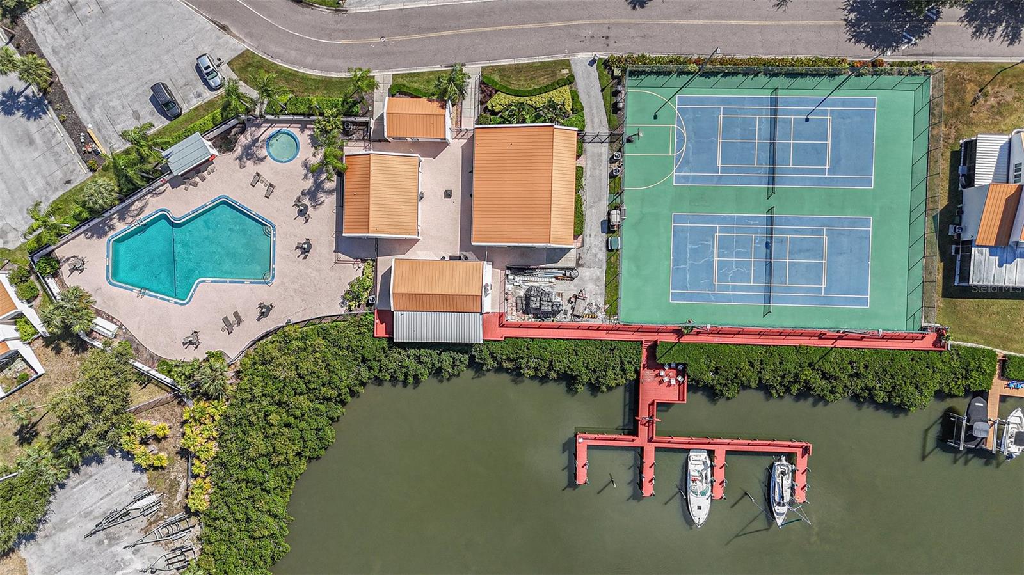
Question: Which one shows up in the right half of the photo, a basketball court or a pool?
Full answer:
The feature located in the right half of the photo is a basketball court.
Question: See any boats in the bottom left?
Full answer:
No, the scene shows no boat in the bottom left.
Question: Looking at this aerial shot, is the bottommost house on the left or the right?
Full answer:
It is on the left.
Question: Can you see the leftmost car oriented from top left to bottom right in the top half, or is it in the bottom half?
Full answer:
You can find the leftmost car oriented from top left to bottom right in the top half.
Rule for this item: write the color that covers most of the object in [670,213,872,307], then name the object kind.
blue tennis court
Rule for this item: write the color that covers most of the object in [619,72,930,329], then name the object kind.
green basketball court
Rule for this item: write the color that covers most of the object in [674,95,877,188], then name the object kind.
blue tennis court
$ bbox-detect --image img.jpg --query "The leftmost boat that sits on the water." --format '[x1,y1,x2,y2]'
[687,448,713,528]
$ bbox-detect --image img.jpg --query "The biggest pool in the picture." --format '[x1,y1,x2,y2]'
[106,197,276,305]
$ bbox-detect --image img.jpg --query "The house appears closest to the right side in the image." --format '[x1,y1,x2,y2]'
[952,129,1024,287]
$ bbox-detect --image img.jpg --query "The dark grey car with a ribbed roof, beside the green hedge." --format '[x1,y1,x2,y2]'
[146,78,183,121]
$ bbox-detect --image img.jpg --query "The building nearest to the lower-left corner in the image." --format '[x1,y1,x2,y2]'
[0,339,52,403]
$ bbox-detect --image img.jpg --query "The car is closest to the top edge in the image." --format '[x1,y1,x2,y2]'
[193,50,225,91]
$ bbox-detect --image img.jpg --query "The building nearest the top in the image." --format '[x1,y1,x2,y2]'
[383,97,455,143]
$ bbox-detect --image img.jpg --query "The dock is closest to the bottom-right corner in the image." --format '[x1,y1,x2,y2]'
[982,358,1024,450]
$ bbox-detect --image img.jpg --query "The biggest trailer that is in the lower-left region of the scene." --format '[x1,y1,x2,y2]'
[79,491,160,540]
